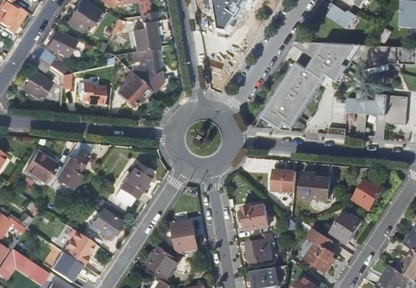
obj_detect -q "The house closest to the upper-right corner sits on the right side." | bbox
[399,0,416,28]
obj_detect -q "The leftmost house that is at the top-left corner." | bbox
[0,0,28,33]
